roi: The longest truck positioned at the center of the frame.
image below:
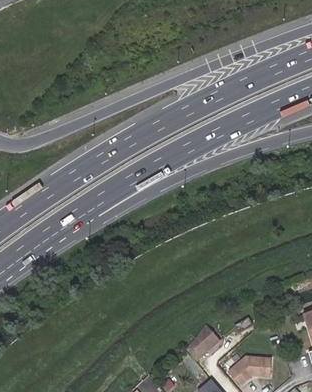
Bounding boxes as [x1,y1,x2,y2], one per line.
[132,168,170,194]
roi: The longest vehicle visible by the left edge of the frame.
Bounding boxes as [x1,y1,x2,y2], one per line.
[10,179,47,208]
